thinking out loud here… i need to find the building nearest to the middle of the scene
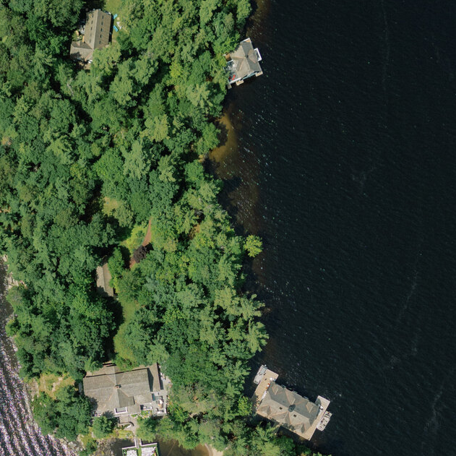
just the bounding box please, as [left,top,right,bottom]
[96,262,117,302]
